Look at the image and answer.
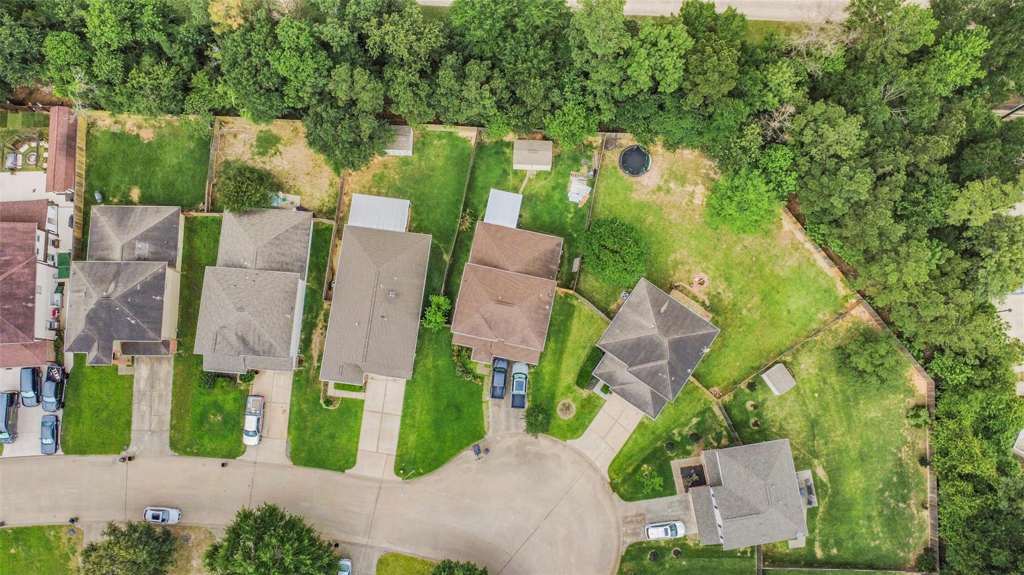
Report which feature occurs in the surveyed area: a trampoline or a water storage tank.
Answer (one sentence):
Visible in the photo is a trampoline.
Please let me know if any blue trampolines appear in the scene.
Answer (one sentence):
No, I can see no blue trampoline in this picture.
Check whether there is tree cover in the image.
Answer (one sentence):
Yes, some tree cover is visible.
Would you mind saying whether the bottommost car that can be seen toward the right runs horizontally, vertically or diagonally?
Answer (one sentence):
Seen from above, the bottommost car that can be seen toward the right lies horizontally.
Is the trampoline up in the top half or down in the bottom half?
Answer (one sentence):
The trampoline is in the top half of the image.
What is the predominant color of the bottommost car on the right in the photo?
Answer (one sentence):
The bottommost car on the right looks white in the image.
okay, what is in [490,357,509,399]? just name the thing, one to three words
vehicle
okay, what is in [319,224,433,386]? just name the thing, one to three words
house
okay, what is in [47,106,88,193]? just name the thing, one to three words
shed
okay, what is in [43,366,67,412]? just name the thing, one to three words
truck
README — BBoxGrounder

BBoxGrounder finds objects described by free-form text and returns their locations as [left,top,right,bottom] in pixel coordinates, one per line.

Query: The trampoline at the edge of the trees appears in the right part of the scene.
[620,141,656,176]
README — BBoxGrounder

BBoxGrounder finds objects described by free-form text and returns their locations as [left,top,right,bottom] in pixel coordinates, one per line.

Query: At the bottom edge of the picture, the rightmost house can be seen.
[689,438,809,550]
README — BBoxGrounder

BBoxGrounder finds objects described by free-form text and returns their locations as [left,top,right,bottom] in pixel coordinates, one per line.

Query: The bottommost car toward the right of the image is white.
[644,520,686,540]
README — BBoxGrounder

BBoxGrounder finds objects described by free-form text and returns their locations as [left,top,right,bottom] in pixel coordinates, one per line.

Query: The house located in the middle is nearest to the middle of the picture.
[450,221,564,366]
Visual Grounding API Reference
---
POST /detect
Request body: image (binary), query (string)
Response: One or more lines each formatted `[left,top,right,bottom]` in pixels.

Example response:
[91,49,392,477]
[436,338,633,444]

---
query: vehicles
[490,357,509,399]
[20,367,44,408]
[336,556,354,575]
[243,395,265,445]
[39,415,61,455]
[0,393,20,443]
[511,362,530,409]
[43,366,67,412]
[644,520,686,540]
[143,506,183,526]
